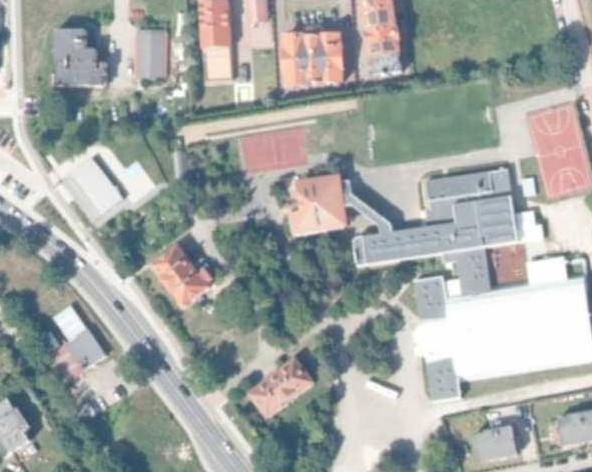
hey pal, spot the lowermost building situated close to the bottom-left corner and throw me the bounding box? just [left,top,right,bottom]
[0,393,34,454]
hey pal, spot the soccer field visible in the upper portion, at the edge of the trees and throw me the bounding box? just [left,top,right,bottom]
[362,81,498,167]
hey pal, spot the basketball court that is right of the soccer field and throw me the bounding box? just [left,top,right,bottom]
[525,100,592,201]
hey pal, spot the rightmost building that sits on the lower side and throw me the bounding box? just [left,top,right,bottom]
[550,408,592,444]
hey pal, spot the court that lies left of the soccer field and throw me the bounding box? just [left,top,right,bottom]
[236,126,308,175]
